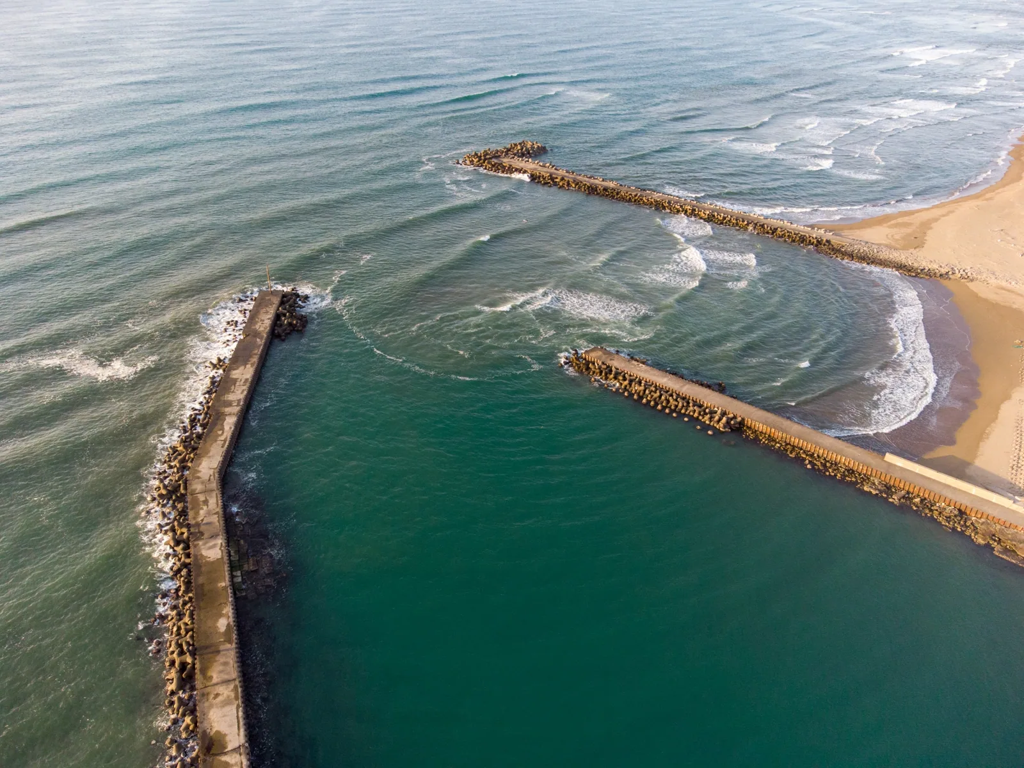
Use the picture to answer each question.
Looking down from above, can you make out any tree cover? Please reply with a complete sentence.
No, there is no tree cover in the image.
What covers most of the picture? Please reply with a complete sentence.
The bulk of the photo consists of water.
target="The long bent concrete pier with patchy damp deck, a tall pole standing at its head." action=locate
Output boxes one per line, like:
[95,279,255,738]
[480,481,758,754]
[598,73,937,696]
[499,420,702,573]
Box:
[187,290,283,768]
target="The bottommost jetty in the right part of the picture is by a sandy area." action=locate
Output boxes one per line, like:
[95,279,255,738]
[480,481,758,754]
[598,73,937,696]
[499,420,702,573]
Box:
[582,348,1024,532]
